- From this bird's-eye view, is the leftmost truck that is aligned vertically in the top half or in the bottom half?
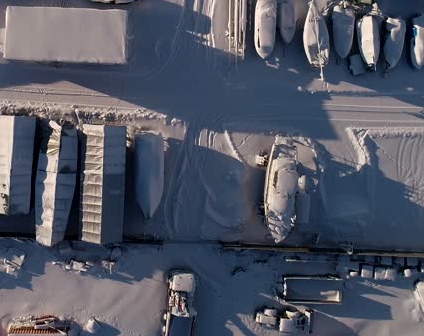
bottom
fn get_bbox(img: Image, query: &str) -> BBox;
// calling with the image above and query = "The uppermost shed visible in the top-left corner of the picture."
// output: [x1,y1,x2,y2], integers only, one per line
[4,5,128,66]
